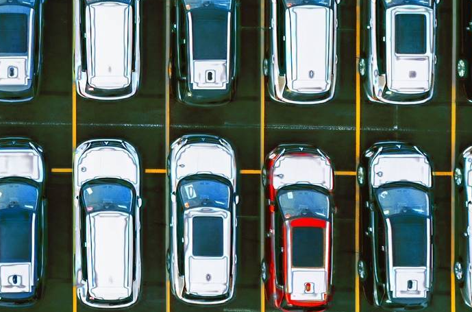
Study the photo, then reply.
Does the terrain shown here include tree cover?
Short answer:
No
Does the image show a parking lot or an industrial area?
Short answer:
parking lot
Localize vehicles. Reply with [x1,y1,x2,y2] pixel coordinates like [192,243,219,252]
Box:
[264,0,337,104]
[167,136,240,302]
[359,143,437,309]
[263,145,338,311]
[362,0,436,104]
[0,138,48,304]
[73,0,140,101]
[169,0,241,107]
[0,0,46,104]
[73,140,142,307]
